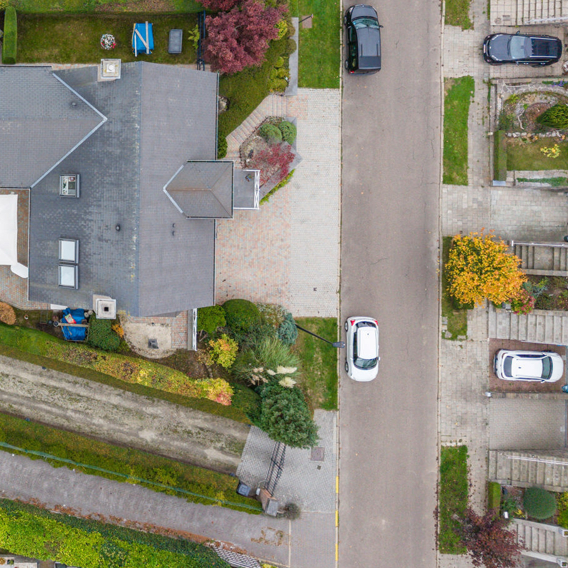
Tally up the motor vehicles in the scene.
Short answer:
4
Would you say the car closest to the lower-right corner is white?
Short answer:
Yes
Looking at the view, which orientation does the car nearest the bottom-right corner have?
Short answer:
from left to right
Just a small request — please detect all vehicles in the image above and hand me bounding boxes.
[487,347,563,385]
[478,31,563,67]
[342,315,380,380]
[342,5,383,75]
